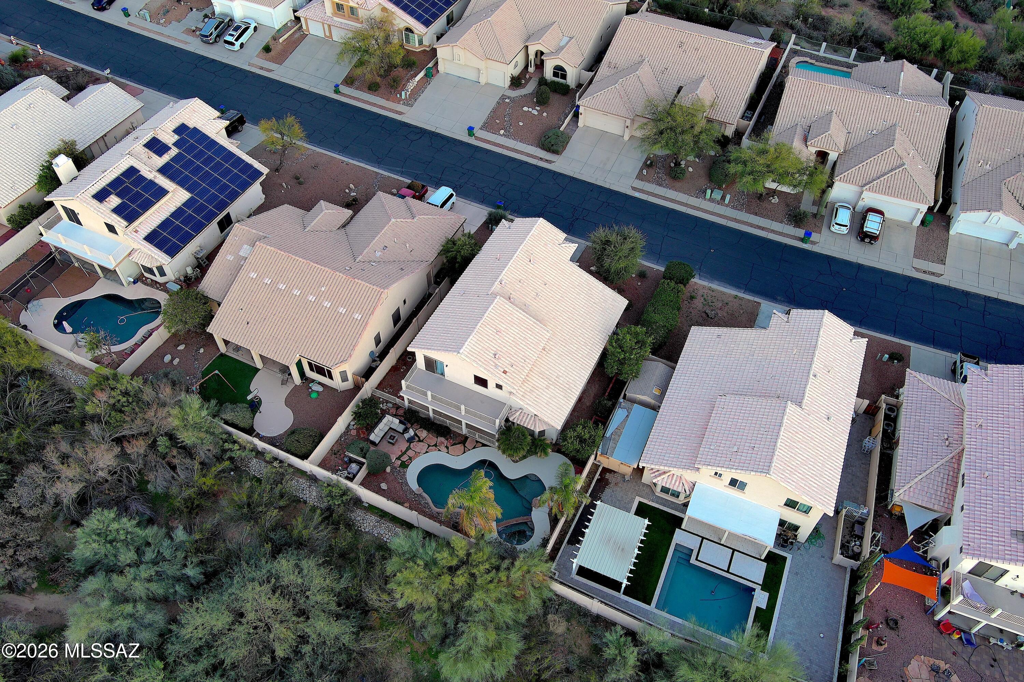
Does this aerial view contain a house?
Yes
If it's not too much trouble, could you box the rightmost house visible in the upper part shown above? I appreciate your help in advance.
[951,90,1024,252]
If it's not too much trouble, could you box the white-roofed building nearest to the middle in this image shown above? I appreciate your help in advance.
[399,213,630,452]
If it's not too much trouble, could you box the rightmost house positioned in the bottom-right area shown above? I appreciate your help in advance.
[890,364,1024,648]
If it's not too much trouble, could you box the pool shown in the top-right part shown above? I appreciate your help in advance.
[795,59,853,76]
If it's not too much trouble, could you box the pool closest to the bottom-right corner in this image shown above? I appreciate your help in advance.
[656,544,757,643]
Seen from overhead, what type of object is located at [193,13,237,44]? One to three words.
car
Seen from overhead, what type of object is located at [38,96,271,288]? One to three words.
house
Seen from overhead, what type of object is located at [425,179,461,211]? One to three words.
car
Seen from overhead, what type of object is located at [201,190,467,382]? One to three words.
house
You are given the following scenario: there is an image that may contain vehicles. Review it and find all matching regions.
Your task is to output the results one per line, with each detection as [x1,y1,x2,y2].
[83,0,125,14]
[219,20,261,49]
[219,100,254,139]
[394,172,434,201]
[425,179,461,211]
[952,340,982,385]
[855,208,887,249]
[193,13,237,44]
[827,202,855,238]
